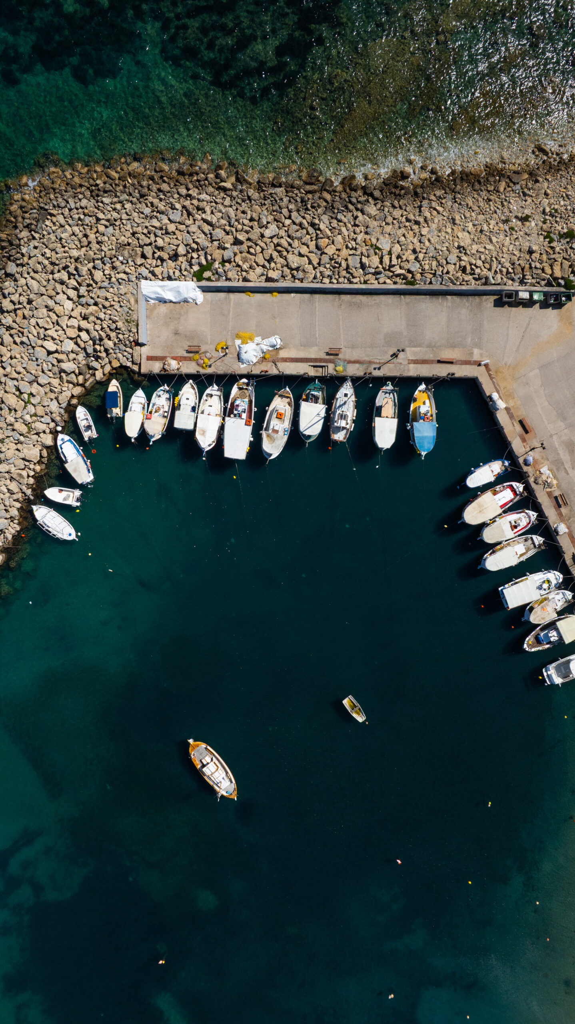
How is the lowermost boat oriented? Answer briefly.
on a diagonal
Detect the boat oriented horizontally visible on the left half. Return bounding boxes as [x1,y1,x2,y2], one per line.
[44,487,88,507]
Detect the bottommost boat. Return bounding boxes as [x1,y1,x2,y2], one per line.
[187,738,238,802]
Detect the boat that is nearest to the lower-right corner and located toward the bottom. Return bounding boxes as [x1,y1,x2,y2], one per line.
[540,652,575,687]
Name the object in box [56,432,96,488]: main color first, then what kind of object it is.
white boat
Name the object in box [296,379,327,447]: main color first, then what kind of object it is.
white boat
